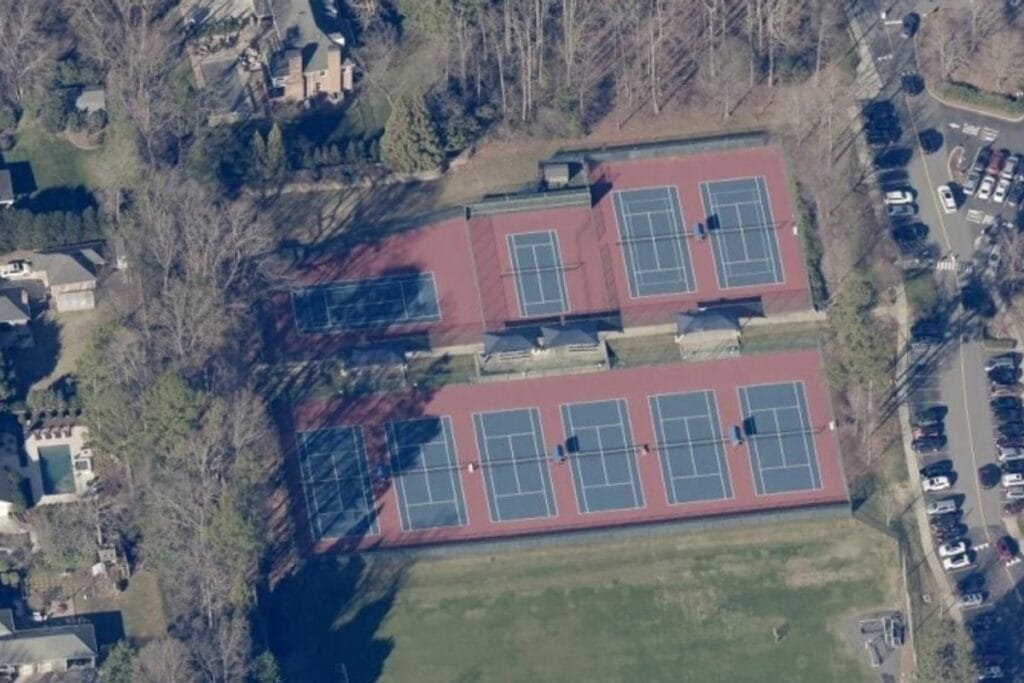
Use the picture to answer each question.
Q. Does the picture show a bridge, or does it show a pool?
pool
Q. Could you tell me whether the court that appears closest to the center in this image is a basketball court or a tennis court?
tennis court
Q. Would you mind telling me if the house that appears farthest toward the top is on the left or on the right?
left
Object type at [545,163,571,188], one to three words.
shed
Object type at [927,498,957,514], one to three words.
car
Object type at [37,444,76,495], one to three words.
swimming pool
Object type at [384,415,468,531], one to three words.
tennis court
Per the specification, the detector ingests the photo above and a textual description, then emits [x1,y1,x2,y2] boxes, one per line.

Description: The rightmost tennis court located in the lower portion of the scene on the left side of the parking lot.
[736,380,823,496]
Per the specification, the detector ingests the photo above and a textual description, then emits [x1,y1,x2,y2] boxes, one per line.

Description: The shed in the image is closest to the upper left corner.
[75,92,105,121]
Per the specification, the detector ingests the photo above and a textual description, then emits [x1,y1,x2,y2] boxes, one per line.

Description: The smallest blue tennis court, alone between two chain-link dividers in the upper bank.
[506,230,570,317]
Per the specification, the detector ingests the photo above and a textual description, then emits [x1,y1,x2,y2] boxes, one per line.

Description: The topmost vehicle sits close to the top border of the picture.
[904,15,918,39]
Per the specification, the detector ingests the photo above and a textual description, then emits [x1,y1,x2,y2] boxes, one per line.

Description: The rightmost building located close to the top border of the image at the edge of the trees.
[247,0,356,104]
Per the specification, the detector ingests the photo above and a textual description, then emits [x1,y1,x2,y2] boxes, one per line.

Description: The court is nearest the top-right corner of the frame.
[700,176,785,289]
